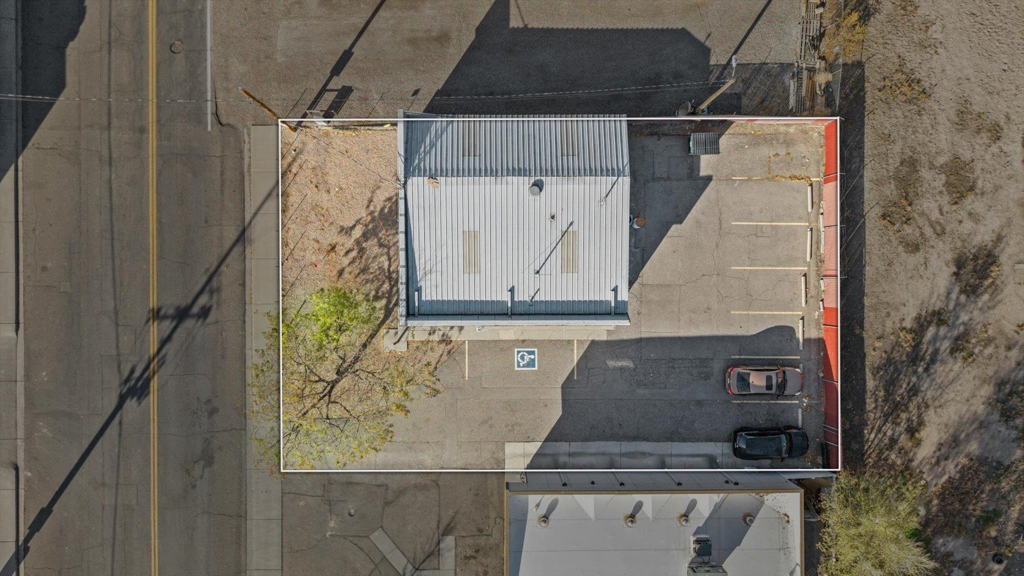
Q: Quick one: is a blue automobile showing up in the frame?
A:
No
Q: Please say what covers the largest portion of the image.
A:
paved ground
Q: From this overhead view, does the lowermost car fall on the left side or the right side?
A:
right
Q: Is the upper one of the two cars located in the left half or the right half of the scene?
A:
right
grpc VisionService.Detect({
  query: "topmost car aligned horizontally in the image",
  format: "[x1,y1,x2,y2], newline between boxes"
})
[725,363,803,399]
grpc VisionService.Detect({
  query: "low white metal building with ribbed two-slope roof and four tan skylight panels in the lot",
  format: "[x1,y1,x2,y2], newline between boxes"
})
[396,108,630,331]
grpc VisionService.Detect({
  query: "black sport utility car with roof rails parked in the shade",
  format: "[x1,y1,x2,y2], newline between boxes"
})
[730,423,807,461]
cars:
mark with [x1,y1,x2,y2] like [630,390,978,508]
[725,363,803,399]
[730,423,807,461]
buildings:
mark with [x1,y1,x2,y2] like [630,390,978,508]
[506,463,806,576]
[396,108,630,331]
